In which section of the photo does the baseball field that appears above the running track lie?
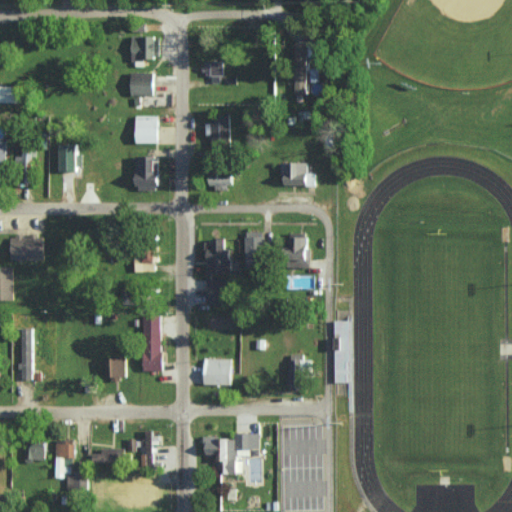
top right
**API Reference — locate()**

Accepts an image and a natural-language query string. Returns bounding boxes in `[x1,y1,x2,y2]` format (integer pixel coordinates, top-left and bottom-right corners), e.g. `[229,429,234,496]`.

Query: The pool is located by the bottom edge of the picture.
[246,456,264,488]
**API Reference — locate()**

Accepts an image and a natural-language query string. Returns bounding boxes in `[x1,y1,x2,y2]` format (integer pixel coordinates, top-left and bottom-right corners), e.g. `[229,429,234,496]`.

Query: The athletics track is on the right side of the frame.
[354,157,512,512]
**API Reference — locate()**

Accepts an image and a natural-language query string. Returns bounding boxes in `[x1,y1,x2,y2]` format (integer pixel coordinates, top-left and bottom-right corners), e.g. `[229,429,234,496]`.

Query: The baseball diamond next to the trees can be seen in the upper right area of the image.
[376,0,512,90]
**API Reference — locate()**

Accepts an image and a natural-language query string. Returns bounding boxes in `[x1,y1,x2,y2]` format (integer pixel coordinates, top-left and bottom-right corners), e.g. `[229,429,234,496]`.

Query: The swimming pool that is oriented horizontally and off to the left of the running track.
[286,276,316,290]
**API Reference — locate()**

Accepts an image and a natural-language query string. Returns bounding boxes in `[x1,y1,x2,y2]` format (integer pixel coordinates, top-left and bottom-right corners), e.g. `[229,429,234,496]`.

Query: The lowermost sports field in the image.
[374,176,512,510]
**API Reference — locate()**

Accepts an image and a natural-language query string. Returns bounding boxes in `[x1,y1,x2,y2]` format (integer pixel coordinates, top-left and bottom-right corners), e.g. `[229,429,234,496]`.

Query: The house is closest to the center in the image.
[245,232,269,258]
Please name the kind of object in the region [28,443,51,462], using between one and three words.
house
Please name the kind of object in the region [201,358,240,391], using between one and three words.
house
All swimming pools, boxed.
[286,276,316,290]
[246,456,264,488]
